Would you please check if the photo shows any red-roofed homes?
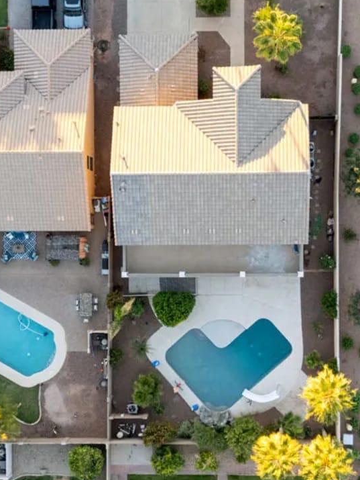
No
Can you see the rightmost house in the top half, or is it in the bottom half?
top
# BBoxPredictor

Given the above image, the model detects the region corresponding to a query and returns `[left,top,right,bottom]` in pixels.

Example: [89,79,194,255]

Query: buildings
[111,32,310,277]
[0,28,94,232]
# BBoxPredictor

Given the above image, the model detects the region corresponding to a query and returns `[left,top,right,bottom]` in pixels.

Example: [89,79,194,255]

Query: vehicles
[29,0,55,29]
[60,0,86,28]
